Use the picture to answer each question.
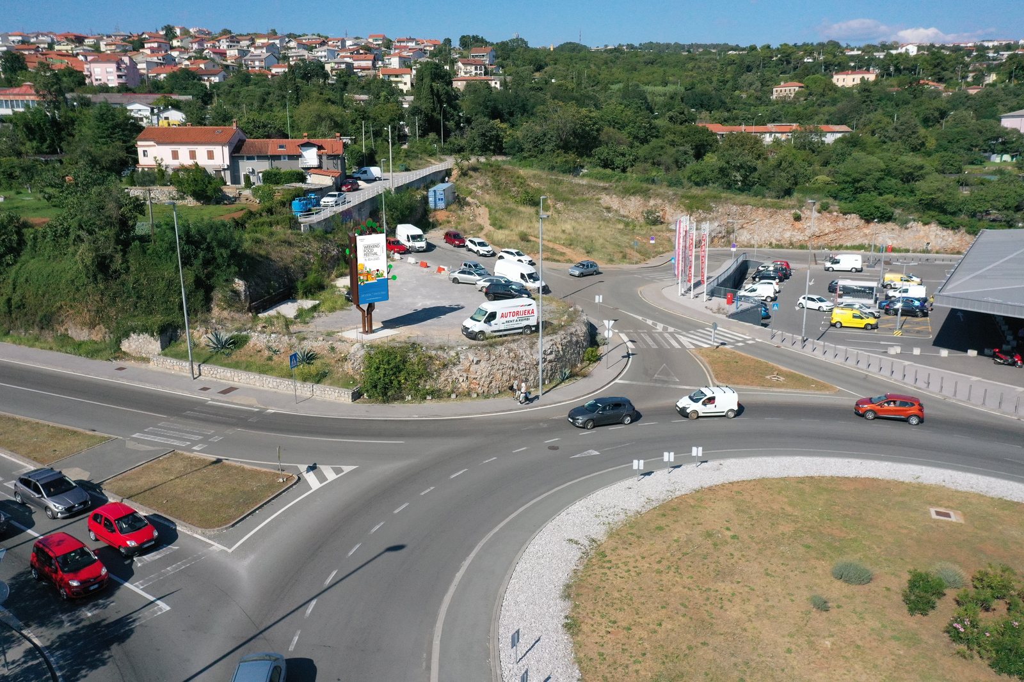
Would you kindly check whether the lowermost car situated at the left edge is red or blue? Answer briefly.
red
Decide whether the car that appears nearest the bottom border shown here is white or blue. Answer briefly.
blue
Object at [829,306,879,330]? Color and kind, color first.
yellow vehicle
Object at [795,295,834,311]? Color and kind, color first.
white car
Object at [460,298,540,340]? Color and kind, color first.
white van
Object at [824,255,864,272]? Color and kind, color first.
white vehicle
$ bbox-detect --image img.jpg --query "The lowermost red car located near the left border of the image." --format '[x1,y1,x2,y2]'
[31,531,104,592]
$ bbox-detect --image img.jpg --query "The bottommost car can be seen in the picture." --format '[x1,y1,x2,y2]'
[229,649,288,682]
